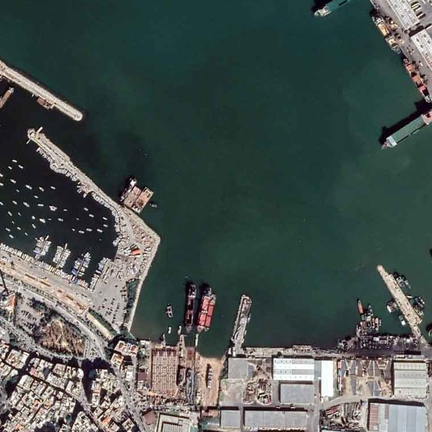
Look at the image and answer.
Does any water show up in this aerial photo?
Yes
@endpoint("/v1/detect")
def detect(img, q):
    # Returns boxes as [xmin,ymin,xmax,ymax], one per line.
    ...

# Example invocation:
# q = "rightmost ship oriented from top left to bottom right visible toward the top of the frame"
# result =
[403,57,431,102]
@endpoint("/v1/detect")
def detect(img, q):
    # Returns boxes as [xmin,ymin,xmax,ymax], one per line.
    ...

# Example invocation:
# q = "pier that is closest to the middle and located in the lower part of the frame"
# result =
[233,299,250,345]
